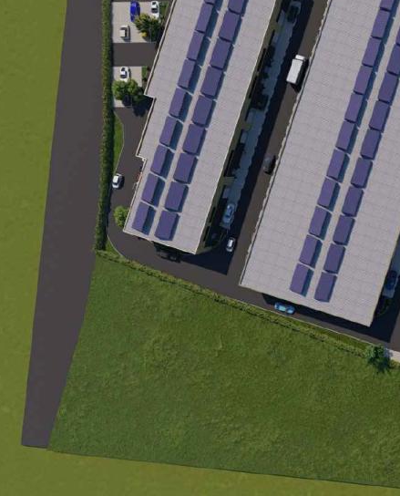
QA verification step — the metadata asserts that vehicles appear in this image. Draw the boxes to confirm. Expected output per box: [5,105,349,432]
[119,22,130,44]
[120,66,130,82]
[274,302,295,315]
[226,237,236,253]
[263,154,276,174]
[149,0,160,19]
[113,173,124,190]
[287,57,307,88]
[130,1,140,22]
[222,204,235,226]
[385,270,399,292]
